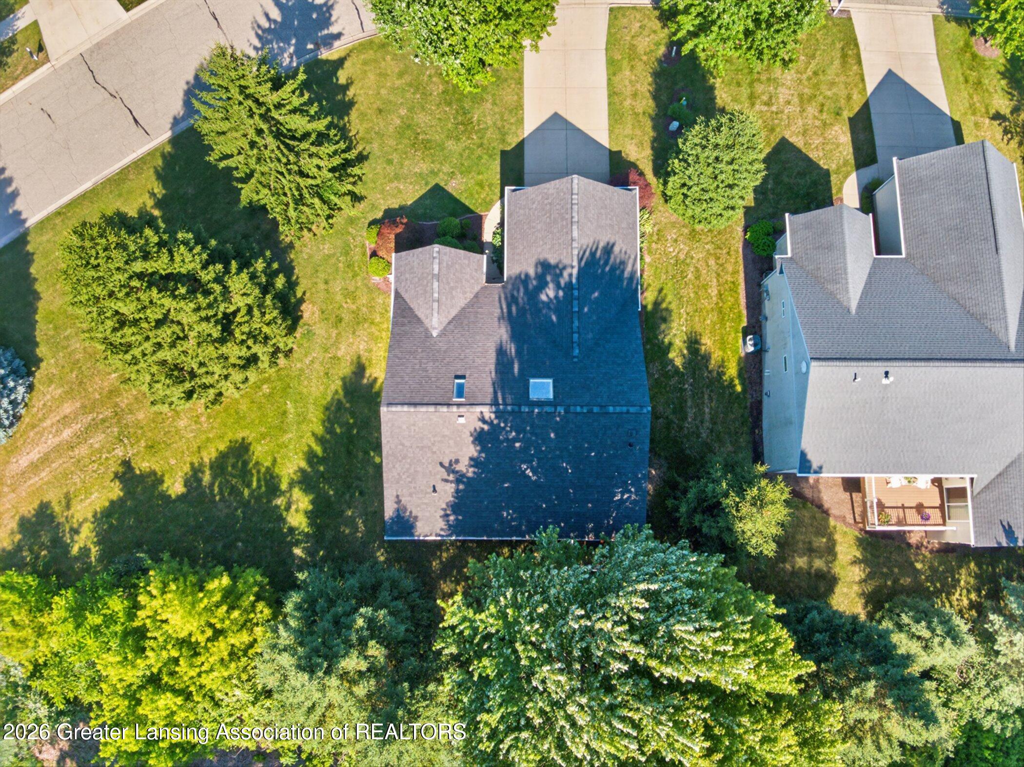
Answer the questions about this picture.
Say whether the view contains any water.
No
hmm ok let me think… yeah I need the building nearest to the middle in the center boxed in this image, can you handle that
[379,174,653,542]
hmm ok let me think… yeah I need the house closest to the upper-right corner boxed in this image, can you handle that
[757,137,1024,549]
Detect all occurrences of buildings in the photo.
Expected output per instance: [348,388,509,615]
[757,137,1024,549]
[379,174,653,542]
